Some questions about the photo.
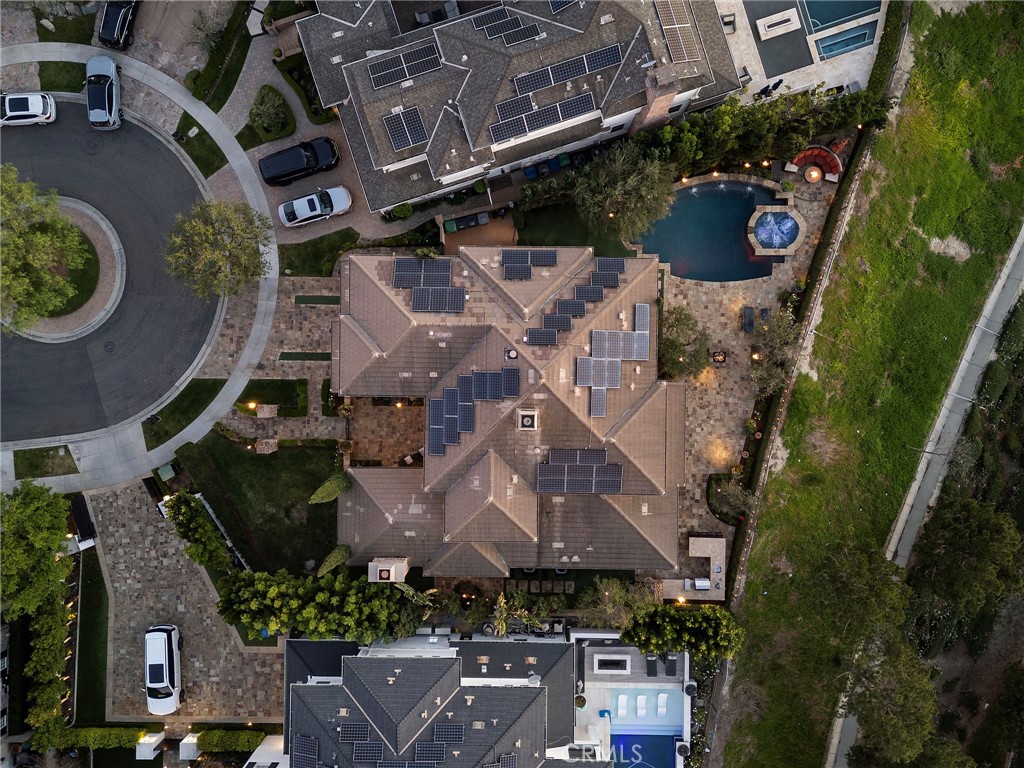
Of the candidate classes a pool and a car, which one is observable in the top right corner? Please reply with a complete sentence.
Visible in the top right corner is a pool.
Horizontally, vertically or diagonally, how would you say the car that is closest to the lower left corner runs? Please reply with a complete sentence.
The car that is closest to the lower left corner is laid out vertically.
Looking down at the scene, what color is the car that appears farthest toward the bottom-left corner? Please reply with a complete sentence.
In this view, the car that appears farthest toward the bottom-left corner is white.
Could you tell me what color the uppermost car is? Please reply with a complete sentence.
The color of the uppermost car is black.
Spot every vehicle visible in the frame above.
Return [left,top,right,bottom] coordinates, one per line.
[79,52,122,129]
[92,0,136,45]
[138,629,182,717]
[0,90,53,124]
[275,183,354,227]
[255,136,341,184]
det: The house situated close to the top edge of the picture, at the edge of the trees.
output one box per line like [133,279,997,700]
[296,0,742,214]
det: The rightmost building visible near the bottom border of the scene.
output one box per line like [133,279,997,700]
[284,626,610,768]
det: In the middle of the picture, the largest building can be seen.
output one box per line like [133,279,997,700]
[330,246,687,582]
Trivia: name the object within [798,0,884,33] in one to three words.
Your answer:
swimming pool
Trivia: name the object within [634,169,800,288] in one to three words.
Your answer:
swimming pool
